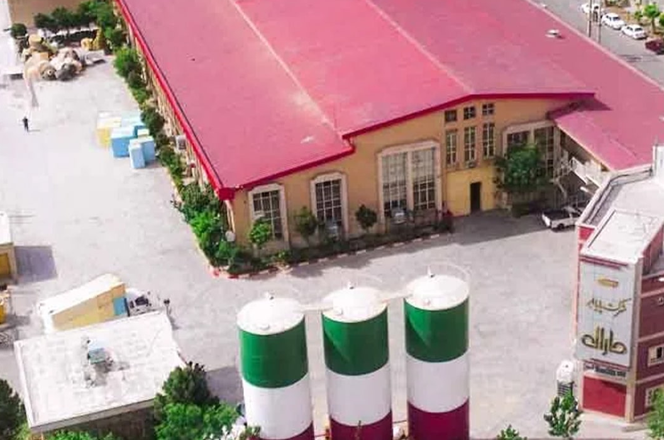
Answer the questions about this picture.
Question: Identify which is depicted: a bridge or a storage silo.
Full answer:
Visible in the photo is a storage silo.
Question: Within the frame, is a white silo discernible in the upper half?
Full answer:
No, I can find no white silo in the upper half.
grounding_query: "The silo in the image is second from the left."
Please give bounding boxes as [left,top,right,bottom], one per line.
[323,281,393,440]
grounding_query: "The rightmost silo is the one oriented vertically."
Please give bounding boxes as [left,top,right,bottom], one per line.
[405,268,471,440]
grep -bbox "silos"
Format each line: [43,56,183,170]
[405,268,471,440]
[238,291,313,440]
[323,281,393,440]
